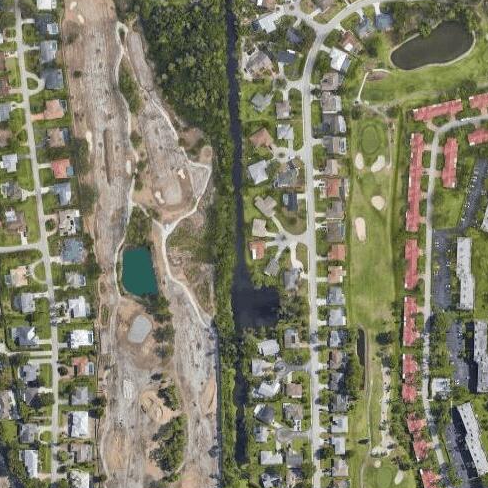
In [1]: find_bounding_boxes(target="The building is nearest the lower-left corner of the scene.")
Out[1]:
[21,449,38,476]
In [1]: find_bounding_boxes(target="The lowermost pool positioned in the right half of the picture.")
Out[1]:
[430,377,449,396]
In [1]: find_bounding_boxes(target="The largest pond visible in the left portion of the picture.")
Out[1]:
[121,244,158,297]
